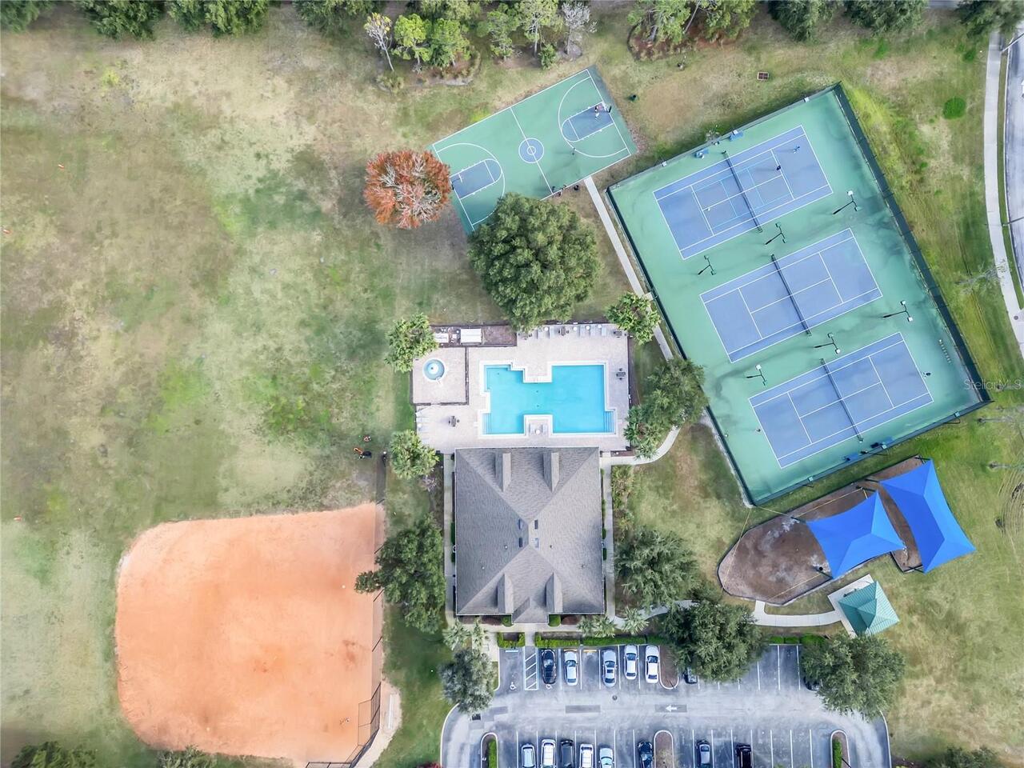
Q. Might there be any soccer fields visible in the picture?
No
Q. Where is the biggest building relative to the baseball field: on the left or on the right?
to the right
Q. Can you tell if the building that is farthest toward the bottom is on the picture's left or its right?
right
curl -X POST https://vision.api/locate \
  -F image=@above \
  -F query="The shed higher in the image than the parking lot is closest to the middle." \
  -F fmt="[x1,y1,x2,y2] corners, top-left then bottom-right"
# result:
[460,328,482,343]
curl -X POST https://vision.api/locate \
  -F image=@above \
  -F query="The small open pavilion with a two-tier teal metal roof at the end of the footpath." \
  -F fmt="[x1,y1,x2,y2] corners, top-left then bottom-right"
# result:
[835,580,900,636]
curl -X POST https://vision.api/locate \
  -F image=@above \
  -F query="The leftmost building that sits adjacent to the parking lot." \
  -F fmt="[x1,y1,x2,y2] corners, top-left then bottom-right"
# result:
[454,447,605,624]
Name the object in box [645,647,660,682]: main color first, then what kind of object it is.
white car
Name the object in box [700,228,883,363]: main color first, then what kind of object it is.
blue tennis court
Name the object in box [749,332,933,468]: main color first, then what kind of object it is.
blue tennis court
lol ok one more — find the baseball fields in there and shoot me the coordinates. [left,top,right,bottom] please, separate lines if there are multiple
[116,502,386,768]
